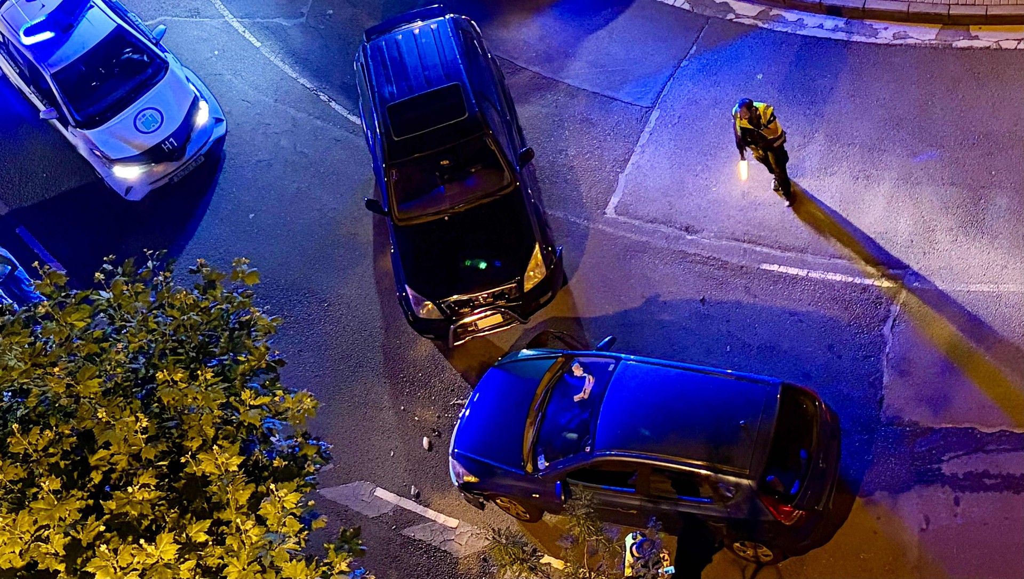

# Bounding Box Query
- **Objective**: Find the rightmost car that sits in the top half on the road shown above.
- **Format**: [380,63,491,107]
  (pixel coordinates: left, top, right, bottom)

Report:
[358,0,561,353]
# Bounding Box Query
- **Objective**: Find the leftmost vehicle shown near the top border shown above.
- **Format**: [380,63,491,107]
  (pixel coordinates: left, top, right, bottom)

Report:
[0,0,227,202]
